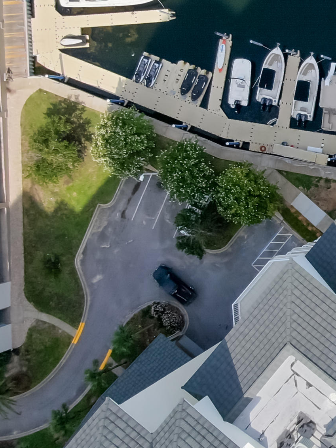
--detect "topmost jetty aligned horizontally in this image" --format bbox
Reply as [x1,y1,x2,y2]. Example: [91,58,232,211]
[57,9,169,28]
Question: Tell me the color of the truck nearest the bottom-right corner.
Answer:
black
